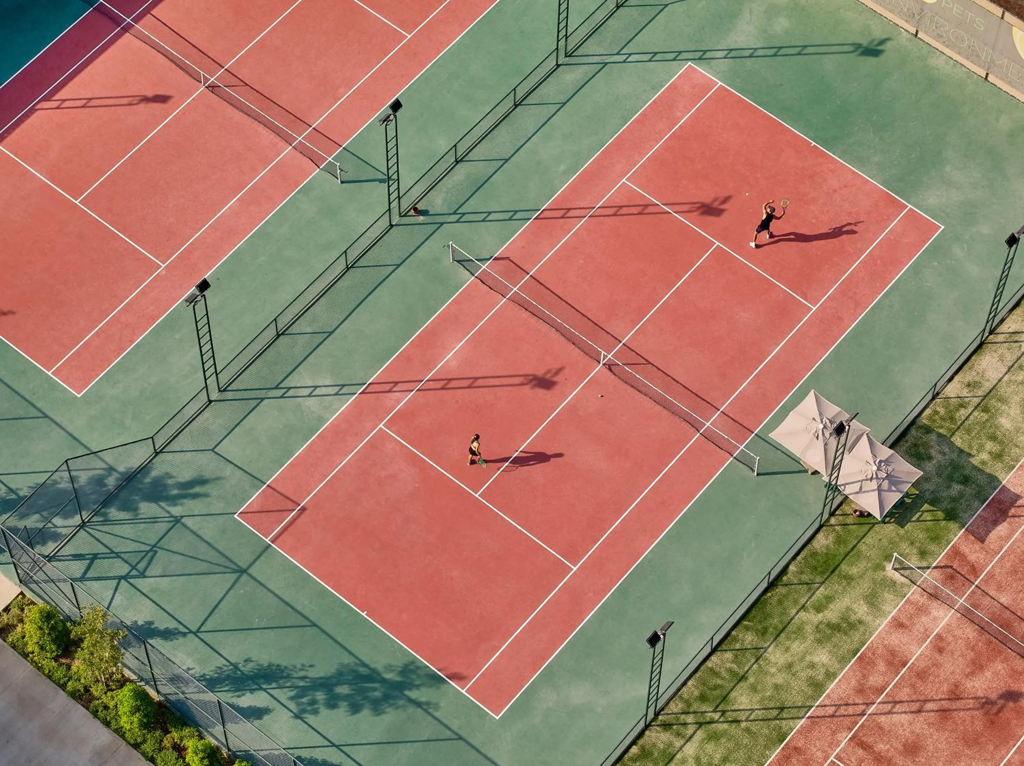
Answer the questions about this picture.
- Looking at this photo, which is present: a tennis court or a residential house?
tennis court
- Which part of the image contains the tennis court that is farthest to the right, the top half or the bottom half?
bottom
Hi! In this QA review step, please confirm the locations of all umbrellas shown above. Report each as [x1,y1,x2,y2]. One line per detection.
[823,433,922,521]
[770,390,869,477]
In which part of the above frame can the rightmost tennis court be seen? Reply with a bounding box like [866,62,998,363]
[618,301,1024,766]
